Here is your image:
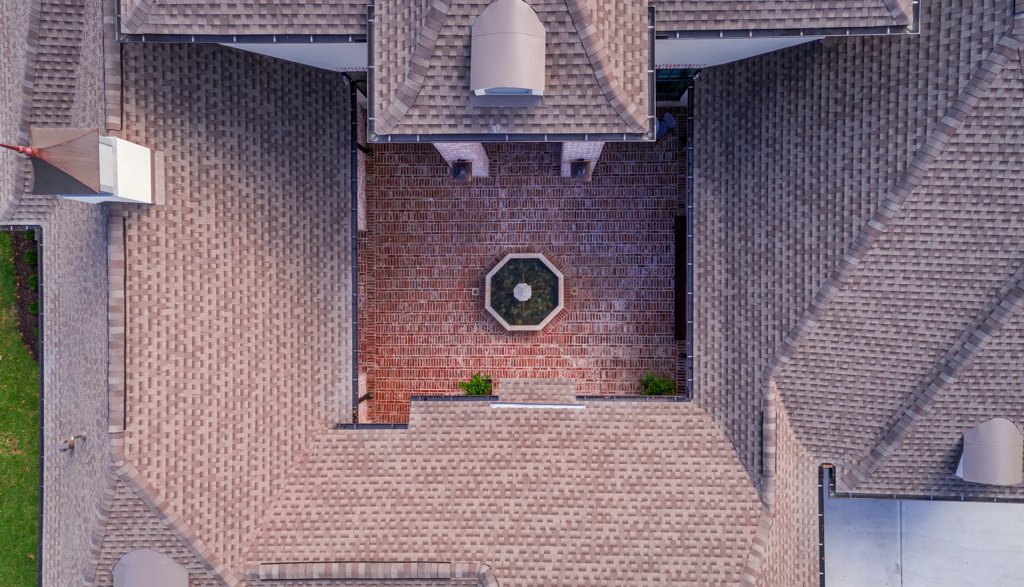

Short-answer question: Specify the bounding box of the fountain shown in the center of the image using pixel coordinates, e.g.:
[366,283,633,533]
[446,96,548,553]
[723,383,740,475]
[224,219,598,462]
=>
[485,252,564,331]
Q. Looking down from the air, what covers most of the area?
buildings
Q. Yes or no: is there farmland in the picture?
No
